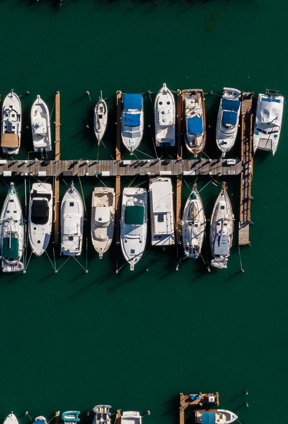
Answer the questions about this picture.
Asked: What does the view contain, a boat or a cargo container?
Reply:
boat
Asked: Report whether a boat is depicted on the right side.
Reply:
Yes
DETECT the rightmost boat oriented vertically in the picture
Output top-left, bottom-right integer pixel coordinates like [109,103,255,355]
[252,88,287,157]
